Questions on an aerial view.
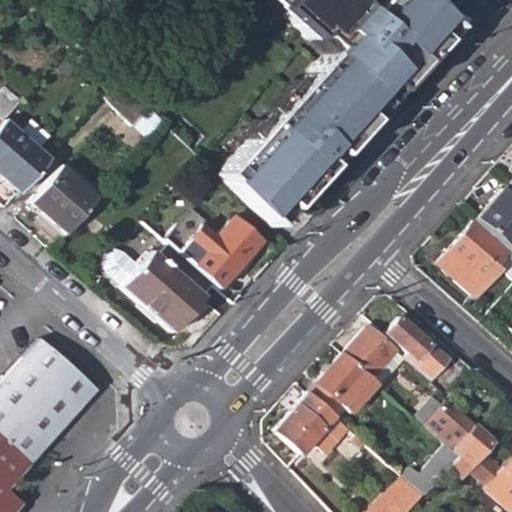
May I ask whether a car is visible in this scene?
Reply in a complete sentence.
Yes, a car appears in the view.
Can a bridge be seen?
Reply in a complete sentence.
No, no bridge is visible in the view.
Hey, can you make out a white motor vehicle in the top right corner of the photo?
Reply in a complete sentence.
Yes, in the top right corner of the photo there is a white motor vehicle.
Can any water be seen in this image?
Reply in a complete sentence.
No, there's no water in this view.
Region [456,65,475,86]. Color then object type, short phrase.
gray car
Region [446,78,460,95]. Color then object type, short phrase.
white car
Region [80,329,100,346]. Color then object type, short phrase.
white car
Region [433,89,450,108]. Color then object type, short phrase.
white vehicle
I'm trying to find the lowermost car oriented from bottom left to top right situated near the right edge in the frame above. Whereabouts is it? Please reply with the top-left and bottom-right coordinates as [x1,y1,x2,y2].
[476,178,498,198]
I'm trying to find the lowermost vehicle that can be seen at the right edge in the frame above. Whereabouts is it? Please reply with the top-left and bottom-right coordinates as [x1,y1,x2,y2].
[473,352,492,370]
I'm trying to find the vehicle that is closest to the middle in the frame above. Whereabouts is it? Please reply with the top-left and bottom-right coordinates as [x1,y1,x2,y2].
[350,208,370,230]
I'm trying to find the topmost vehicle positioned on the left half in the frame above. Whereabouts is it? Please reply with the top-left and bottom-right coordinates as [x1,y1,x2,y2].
[8,228,30,248]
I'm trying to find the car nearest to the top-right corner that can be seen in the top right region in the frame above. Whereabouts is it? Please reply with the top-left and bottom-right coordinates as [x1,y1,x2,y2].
[471,50,489,70]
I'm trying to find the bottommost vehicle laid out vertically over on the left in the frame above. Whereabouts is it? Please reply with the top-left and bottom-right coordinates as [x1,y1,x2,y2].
[14,325,26,348]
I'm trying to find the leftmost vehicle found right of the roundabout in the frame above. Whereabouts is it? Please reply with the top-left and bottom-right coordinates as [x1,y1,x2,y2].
[230,392,248,412]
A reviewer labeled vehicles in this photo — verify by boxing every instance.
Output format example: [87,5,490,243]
[14,325,26,348]
[416,106,436,128]
[415,299,434,316]
[473,352,492,370]
[230,392,248,412]
[350,208,370,230]
[476,178,498,198]
[471,50,489,70]
[0,252,12,268]
[433,89,450,108]
[456,65,475,86]
[102,312,122,330]
[8,228,30,248]
[80,329,100,346]
[382,147,400,166]
[498,120,512,141]
[362,166,382,187]
[62,314,82,331]
[452,146,470,165]
[46,261,68,281]
[66,279,86,296]
[436,318,457,338]
[446,78,460,95]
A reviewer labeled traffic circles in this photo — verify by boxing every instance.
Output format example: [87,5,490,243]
[174,401,211,438]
